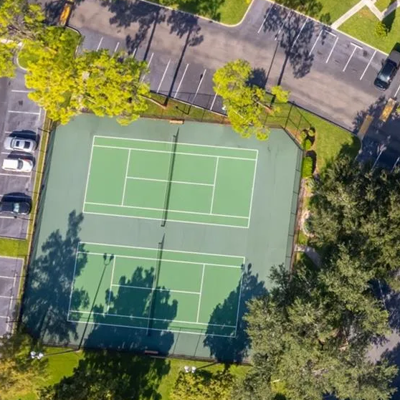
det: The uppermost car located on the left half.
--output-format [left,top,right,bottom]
[4,136,39,152]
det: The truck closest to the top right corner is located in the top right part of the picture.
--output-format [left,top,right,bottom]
[375,48,400,91]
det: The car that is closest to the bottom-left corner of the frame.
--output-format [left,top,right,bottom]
[0,199,31,216]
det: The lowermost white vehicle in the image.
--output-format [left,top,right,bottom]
[2,157,36,173]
